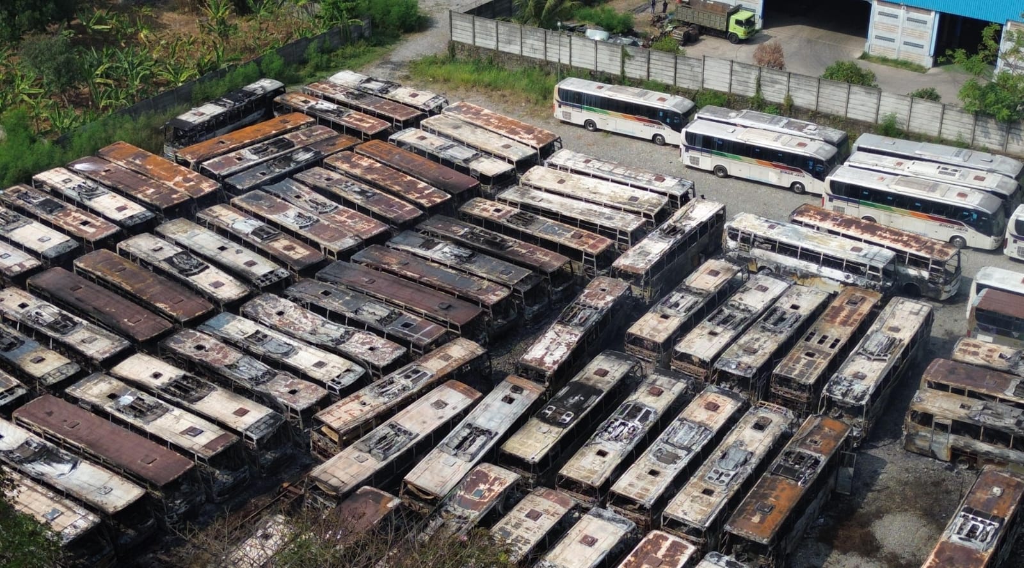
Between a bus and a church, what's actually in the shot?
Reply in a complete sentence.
Visible in the photo is a bus.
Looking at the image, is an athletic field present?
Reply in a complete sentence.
No, there appears to be no athletic field in this shot.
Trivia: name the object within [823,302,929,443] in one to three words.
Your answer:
bus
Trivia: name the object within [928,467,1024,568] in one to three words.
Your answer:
bus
